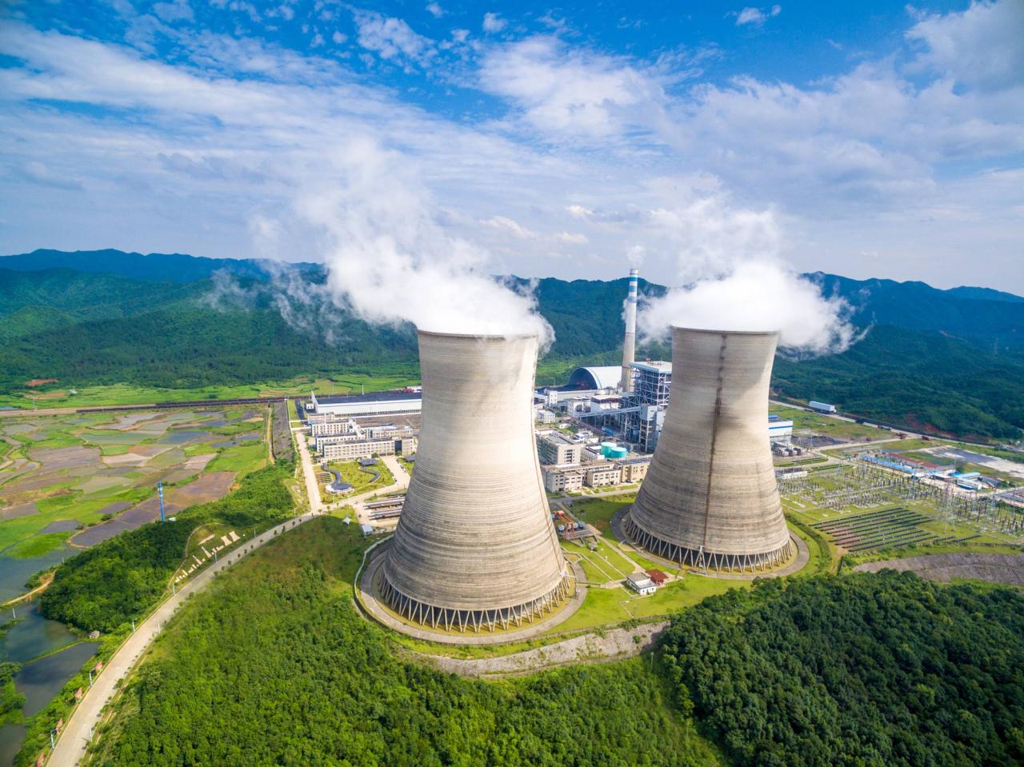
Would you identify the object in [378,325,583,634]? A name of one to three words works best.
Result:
cooling tower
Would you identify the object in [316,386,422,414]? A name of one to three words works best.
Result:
building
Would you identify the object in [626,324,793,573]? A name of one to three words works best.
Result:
cooling tower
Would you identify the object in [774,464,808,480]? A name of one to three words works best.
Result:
shed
